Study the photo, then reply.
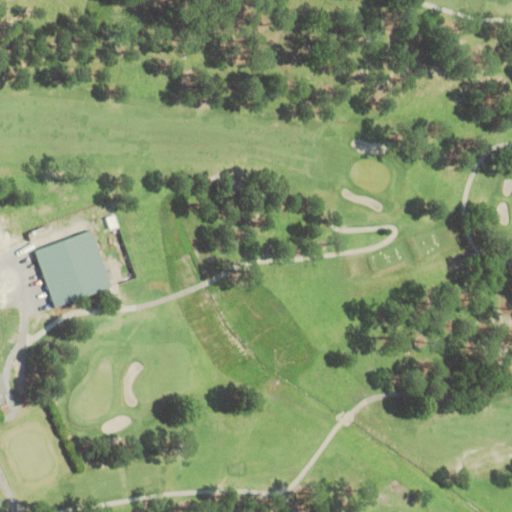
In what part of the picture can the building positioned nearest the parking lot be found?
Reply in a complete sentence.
Look in the left portion of the view to spot the building positioned nearest the parking lot.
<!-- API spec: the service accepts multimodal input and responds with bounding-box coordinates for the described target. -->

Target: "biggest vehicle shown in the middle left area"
[14,244,36,257]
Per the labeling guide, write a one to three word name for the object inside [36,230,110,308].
building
